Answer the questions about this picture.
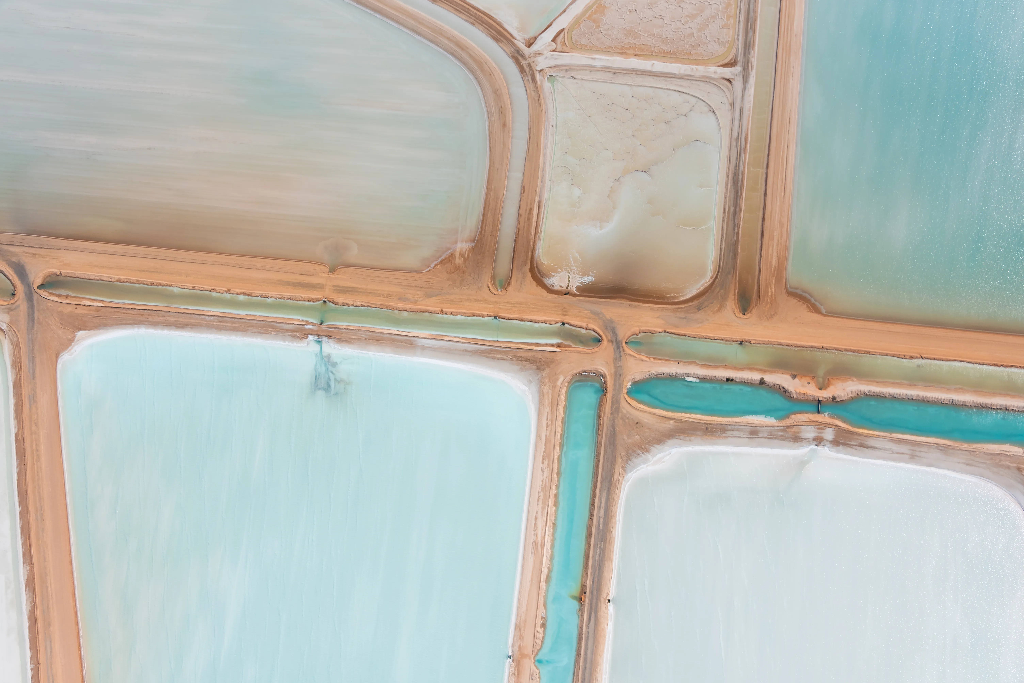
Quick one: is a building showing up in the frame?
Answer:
No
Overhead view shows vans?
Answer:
No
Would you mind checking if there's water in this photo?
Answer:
Yes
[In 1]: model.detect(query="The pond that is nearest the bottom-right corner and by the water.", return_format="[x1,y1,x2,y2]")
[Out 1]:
[606,451,1024,683]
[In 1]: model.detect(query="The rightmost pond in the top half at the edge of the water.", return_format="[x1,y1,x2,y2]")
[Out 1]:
[786,0,1024,335]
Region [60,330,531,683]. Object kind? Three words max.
pond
